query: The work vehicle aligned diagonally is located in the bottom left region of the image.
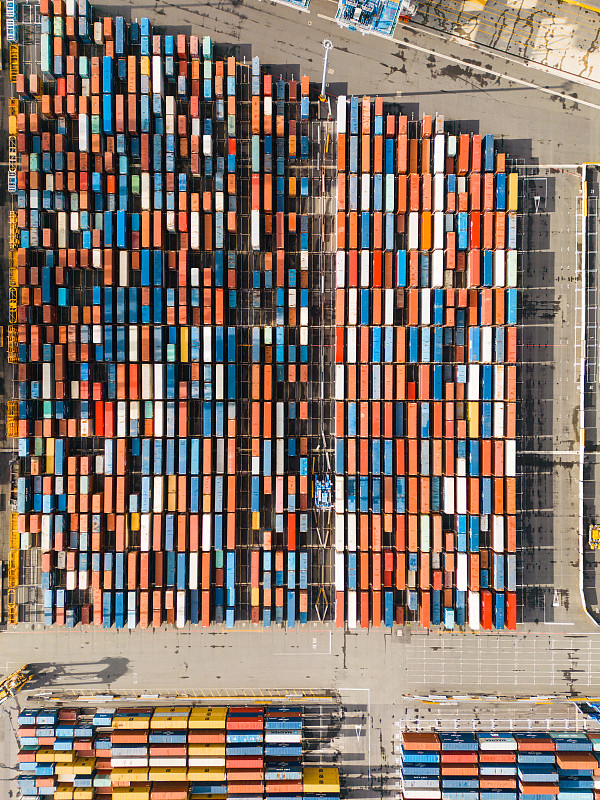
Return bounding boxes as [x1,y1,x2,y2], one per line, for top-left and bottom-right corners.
[0,662,34,705]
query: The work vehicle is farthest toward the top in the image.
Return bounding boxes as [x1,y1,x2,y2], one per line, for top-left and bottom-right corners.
[316,476,334,510]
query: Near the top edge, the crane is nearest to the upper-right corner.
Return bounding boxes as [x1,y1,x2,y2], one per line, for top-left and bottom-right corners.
[335,0,423,41]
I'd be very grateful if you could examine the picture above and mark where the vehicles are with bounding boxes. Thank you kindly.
[316,476,334,510]
[588,525,600,549]
[0,662,34,705]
